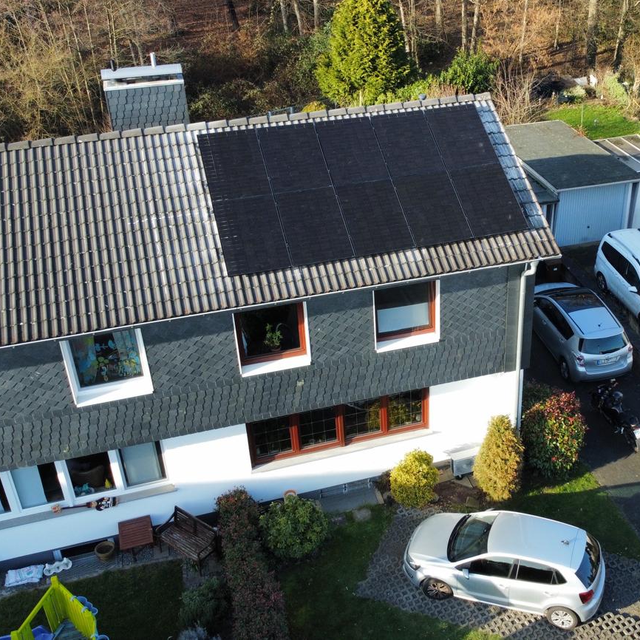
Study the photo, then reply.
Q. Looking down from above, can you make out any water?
No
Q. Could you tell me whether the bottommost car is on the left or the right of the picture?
right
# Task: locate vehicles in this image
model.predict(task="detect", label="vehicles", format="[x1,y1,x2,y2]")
[403,503,610,630]
[589,375,640,448]
[533,282,633,380]
[594,229,640,333]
